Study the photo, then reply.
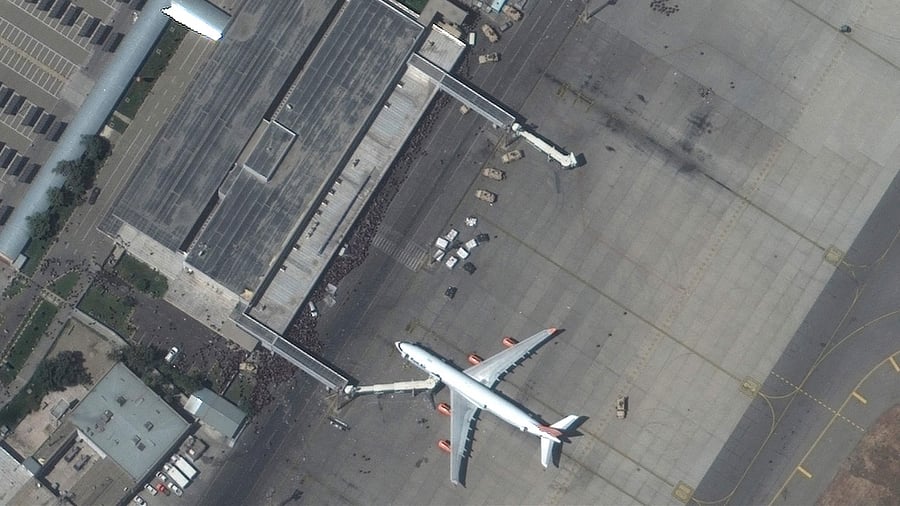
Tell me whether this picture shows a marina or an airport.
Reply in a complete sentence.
This image shows an airport.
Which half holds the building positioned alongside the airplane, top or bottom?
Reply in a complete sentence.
You can find the building positioned alongside the airplane in the top half.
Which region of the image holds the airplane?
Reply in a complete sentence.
You can find the airplane in the bottom area of the picture.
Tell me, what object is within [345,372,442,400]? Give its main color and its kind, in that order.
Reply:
white jet bridge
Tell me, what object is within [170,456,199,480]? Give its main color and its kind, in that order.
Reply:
white truck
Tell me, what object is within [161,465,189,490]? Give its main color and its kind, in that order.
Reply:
white truck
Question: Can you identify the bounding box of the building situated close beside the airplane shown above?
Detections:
[97,0,467,354]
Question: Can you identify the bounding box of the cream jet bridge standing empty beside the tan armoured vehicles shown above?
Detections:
[511,124,578,168]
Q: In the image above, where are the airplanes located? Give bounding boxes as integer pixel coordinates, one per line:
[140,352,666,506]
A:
[395,329,579,486]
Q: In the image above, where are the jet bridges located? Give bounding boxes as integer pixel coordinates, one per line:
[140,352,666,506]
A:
[511,124,578,168]
[345,372,442,400]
